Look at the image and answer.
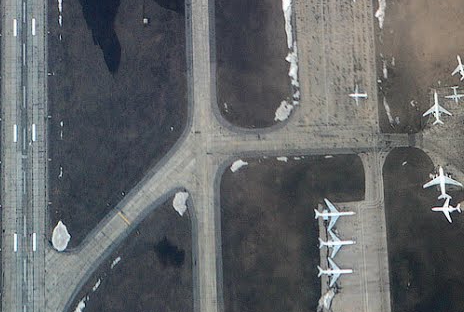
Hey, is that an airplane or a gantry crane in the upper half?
airplane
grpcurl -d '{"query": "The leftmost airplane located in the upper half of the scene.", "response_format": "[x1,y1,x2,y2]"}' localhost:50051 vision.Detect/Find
[349,84,367,106]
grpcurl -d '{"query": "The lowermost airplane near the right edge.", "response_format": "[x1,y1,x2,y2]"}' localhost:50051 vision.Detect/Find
[432,198,463,221]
